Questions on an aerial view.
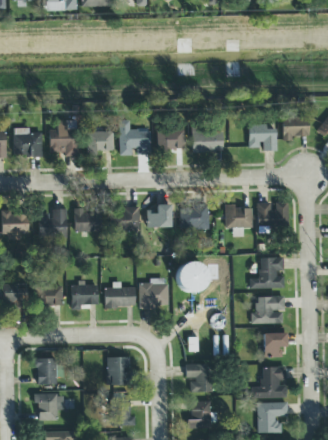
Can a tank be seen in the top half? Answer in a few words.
No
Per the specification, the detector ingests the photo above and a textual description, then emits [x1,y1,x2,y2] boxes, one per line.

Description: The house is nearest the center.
[146,204,174,229]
